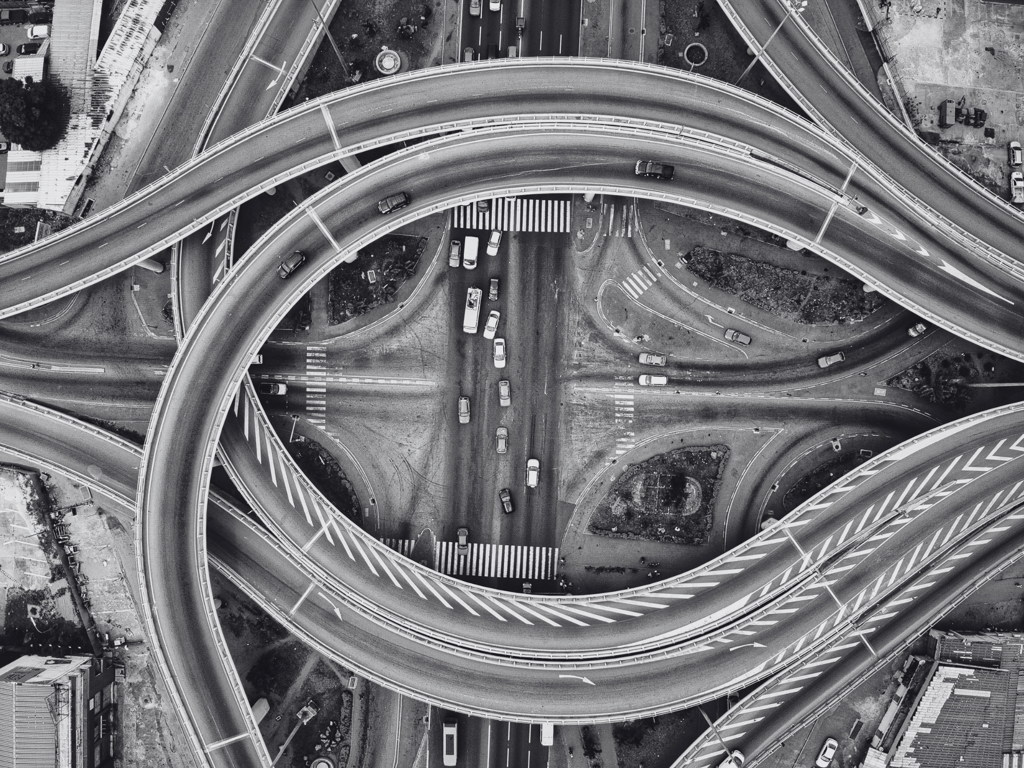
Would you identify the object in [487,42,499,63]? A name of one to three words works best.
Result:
vehicle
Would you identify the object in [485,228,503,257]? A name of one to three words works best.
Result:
car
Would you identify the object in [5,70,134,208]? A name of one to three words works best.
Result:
shed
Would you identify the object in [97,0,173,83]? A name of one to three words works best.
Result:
shed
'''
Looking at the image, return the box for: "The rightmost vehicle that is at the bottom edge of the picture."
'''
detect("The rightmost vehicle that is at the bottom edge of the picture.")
[814,734,838,768]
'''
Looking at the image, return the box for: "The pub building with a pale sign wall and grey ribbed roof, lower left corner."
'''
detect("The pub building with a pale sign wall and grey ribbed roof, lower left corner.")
[0,657,117,768]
